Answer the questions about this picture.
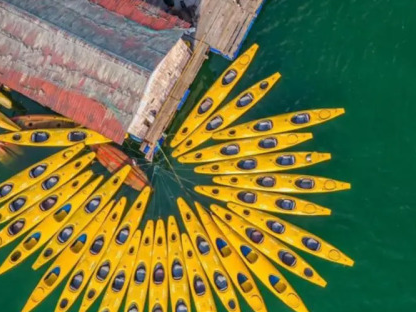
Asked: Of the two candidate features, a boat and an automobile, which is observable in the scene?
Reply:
boat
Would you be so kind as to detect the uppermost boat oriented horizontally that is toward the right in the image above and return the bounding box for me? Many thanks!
[212,107,345,138]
